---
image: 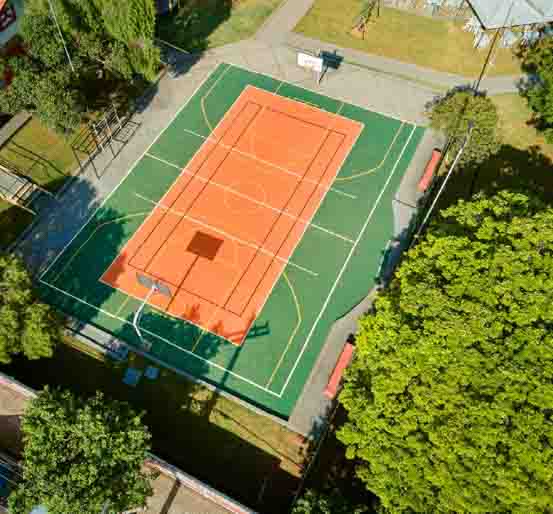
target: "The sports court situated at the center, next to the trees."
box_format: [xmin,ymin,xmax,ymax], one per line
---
[31,59,428,420]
